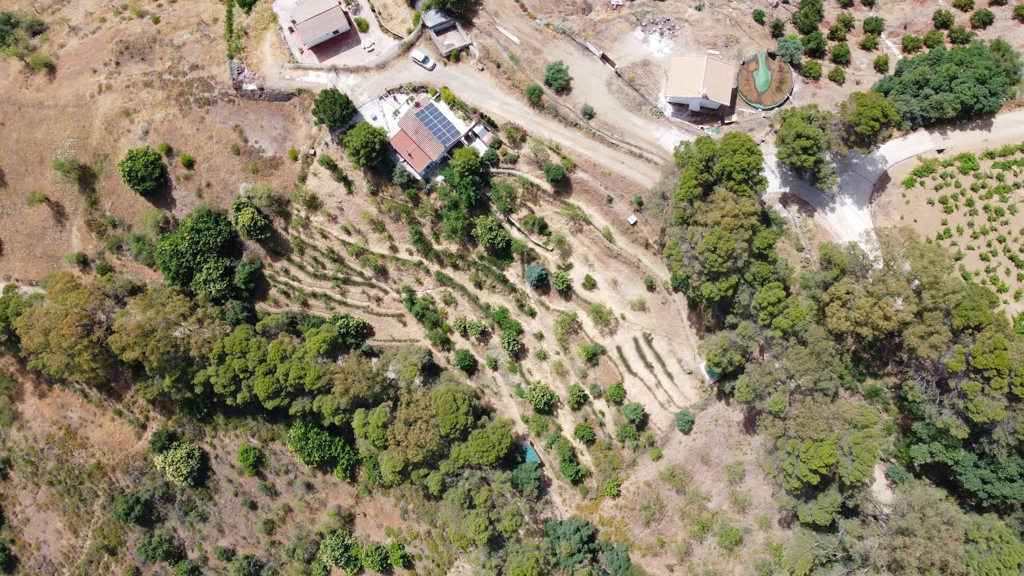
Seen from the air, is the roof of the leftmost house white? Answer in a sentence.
Yes, white is the color of the roof of the leftmost house.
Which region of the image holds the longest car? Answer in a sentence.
Look in the top portion of the view to spot the longest car.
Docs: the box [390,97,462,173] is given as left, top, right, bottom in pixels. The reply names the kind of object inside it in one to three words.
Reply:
house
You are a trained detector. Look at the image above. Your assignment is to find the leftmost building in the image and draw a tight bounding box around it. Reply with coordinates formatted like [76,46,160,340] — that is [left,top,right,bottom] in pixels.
[285,0,353,50]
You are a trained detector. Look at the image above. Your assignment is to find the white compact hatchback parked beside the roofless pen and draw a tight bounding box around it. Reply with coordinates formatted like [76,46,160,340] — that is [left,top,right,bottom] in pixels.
[411,49,436,71]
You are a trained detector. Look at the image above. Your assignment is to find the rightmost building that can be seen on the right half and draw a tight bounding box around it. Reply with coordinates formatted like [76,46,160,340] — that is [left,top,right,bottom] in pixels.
[664,56,735,108]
